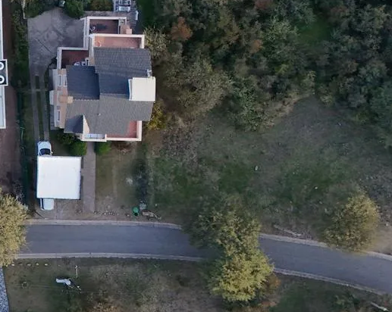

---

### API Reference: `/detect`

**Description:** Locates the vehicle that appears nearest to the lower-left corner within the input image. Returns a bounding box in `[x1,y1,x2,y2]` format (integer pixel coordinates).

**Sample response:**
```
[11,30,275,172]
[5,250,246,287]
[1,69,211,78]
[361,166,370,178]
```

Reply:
[39,199,52,212]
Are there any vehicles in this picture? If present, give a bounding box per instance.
[39,199,52,212]
[37,139,51,156]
